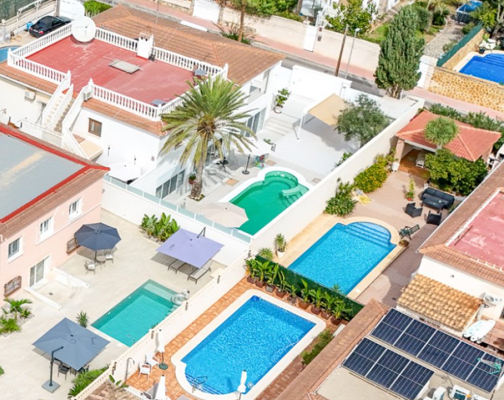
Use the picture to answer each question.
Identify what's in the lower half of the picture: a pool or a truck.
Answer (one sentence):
Visible in the lower half of the picture is a pool.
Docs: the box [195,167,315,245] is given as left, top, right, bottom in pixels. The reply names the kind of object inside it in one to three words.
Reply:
swimming pool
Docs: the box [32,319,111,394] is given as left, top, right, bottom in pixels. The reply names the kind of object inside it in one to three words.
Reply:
umbrella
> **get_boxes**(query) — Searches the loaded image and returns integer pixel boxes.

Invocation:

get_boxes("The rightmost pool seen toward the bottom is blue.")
[278,214,409,299]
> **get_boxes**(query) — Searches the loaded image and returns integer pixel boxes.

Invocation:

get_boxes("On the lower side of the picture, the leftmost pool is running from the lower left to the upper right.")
[84,275,187,347]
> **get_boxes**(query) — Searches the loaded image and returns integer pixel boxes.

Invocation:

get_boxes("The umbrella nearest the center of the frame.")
[204,204,250,234]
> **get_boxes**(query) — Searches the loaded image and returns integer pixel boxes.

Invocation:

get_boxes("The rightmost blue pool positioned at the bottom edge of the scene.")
[166,288,327,400]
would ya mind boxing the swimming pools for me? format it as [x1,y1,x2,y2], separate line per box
[166,288,327,400]
[195,167,315,245]
[278,214,409,299]
[84,275,187,347]
[448,50,504,87]
[0,41,31,63]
